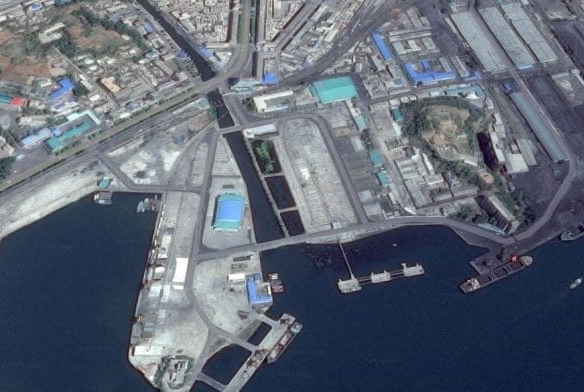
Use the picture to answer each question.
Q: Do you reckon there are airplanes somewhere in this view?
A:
No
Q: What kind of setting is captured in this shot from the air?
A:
port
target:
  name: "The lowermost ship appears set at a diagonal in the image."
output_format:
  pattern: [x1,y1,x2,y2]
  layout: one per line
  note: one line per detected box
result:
[267,323,303,361]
